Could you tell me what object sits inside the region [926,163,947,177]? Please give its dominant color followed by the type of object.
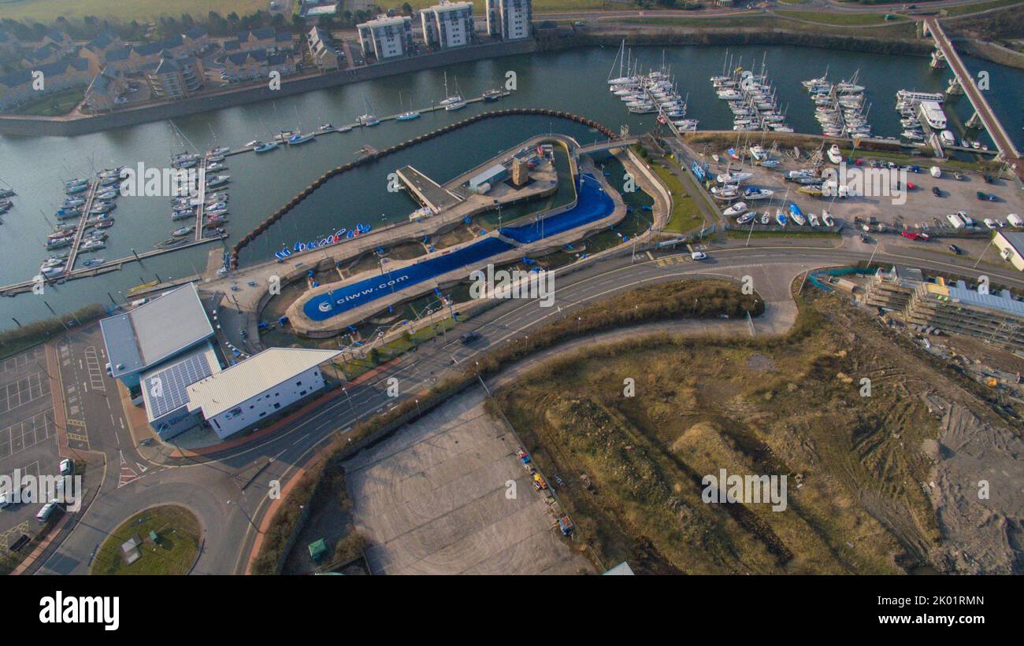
white camper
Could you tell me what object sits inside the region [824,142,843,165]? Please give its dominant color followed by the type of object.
white boat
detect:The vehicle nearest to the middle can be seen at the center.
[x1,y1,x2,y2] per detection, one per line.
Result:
[458,327,479,345]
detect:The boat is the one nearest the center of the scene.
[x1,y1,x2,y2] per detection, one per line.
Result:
[409,206,433,220]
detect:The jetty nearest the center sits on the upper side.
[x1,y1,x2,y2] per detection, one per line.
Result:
[395,164,464,213]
